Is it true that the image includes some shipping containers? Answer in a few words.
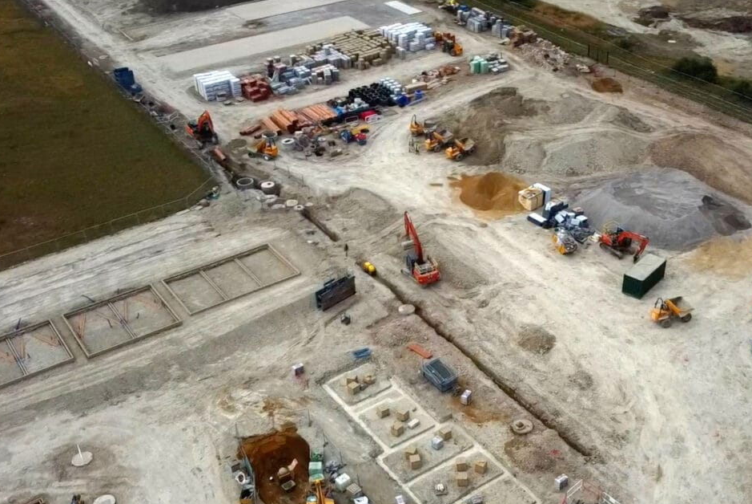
Yes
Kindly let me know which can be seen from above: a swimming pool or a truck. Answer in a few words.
truck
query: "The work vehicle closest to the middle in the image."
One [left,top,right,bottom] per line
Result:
[402,210,438,286]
